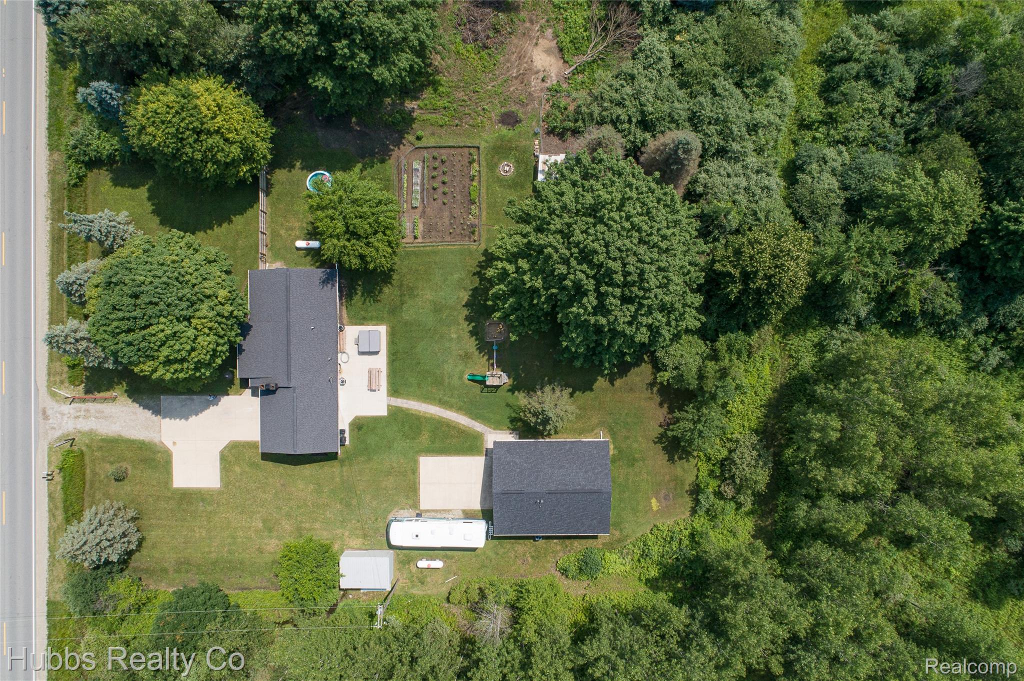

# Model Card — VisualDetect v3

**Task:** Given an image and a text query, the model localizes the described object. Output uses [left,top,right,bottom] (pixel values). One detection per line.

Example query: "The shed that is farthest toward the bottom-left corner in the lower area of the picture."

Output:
[340,551,393,591]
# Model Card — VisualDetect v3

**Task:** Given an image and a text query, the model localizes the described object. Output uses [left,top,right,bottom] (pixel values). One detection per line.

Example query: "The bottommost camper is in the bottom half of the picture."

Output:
[387,516,487,550]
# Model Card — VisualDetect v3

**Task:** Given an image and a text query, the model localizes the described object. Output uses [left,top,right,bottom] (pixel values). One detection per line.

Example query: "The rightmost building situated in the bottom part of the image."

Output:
[493,429,613,536]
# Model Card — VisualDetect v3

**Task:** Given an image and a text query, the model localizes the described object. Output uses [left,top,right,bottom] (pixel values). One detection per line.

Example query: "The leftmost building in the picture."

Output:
[238,266,345,455]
